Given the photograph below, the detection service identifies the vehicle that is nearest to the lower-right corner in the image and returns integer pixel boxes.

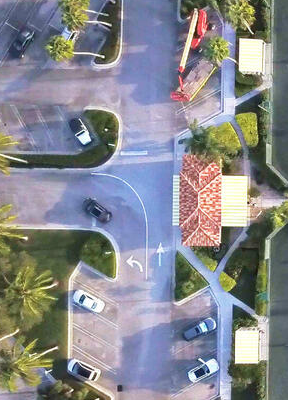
[186,358,220,382]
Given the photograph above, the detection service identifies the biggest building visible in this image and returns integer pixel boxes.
[172,154,253,246]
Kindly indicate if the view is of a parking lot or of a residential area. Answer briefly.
parking lot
